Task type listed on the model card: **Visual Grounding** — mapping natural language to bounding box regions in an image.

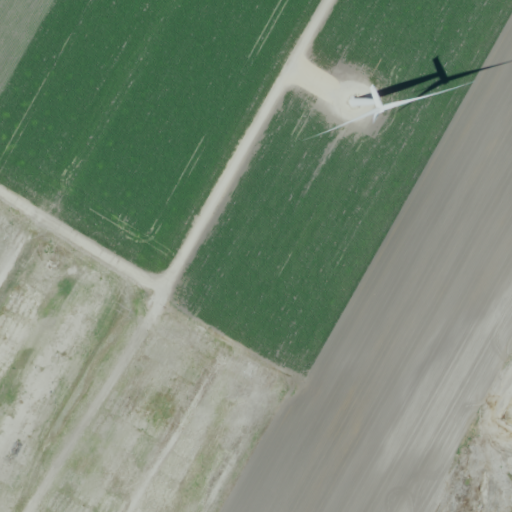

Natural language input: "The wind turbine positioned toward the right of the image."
[304,83,474,142]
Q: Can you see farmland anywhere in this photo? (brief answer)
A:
Yes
